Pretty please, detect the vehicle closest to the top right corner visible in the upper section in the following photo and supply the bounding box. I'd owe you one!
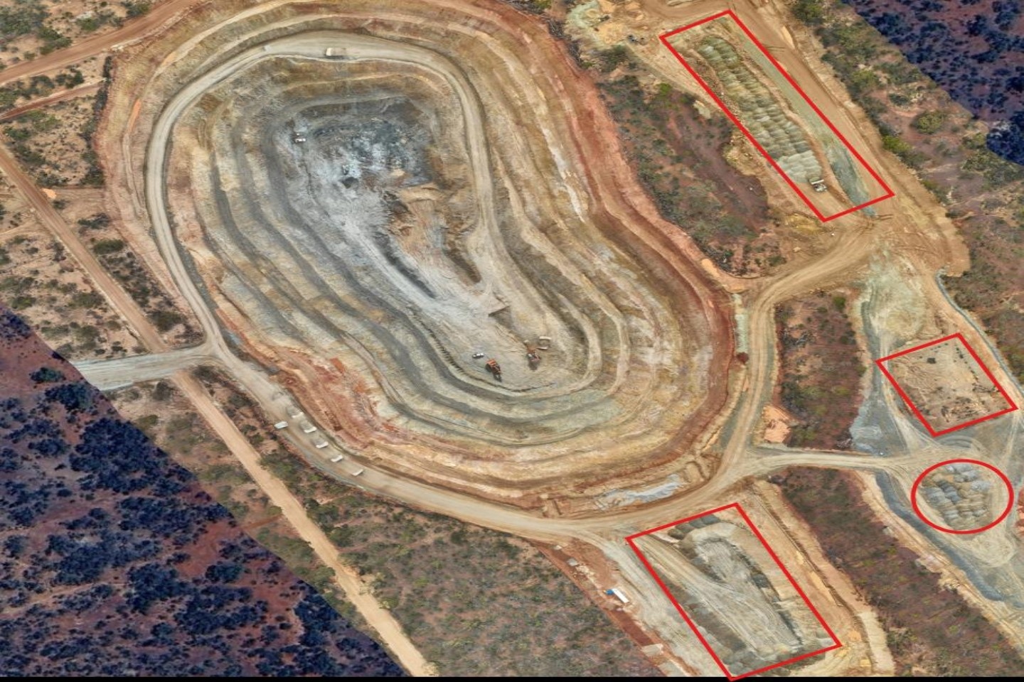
[808,172,823,187]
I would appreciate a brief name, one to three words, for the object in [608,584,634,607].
truck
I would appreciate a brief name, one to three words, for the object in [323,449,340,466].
vehicle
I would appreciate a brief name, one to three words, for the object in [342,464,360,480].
vehicle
